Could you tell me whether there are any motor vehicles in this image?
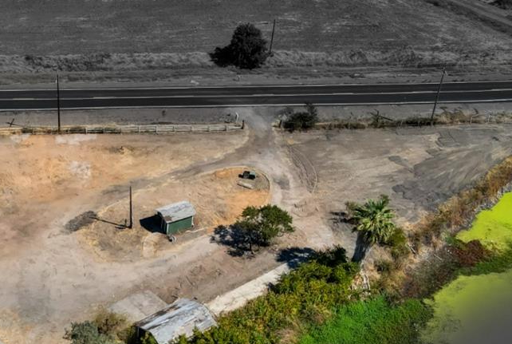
No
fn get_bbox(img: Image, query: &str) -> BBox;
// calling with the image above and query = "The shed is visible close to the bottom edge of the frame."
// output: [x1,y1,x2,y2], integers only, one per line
[133,297,217,344]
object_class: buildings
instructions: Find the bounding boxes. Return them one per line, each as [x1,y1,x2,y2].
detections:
[148,198,195,233]
[133,297,217,344]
